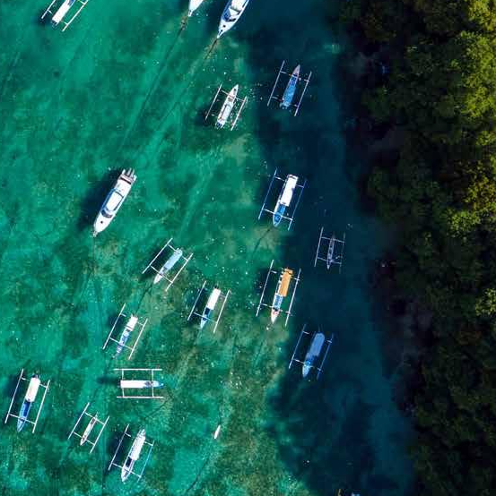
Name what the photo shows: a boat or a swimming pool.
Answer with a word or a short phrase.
boat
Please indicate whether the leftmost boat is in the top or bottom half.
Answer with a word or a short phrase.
bottom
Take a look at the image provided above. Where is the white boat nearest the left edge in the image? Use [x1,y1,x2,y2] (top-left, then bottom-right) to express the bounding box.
[5,371,50,433]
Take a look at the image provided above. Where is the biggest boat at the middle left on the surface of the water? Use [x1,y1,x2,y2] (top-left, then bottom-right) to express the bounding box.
[92,170,135,238]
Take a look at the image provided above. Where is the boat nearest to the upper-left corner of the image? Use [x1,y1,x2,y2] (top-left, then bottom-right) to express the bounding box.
[42,0,88,31]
